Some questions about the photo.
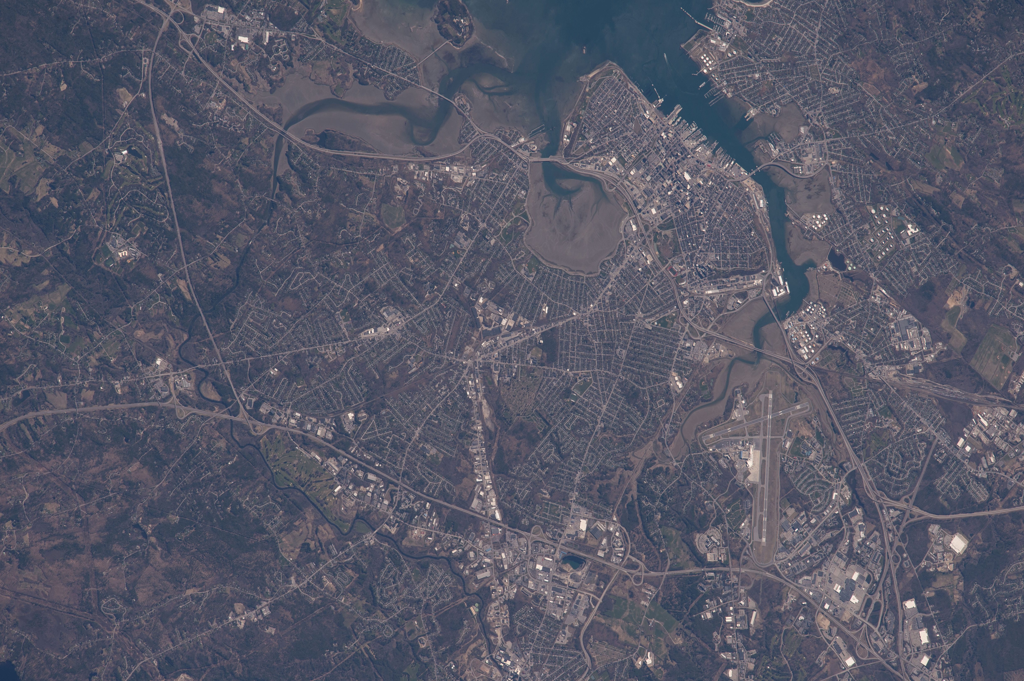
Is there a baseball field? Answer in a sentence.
Yes, there's a baseball field here.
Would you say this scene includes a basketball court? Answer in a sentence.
No, no basketball court can be seen from above.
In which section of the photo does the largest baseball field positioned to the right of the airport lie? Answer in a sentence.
The largest baseball field positioned to the right of the airport is in the right part of the image.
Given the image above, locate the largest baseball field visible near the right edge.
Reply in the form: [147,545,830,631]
[974,341,1017,385]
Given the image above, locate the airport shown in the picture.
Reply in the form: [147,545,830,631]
[700,371,812,564]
